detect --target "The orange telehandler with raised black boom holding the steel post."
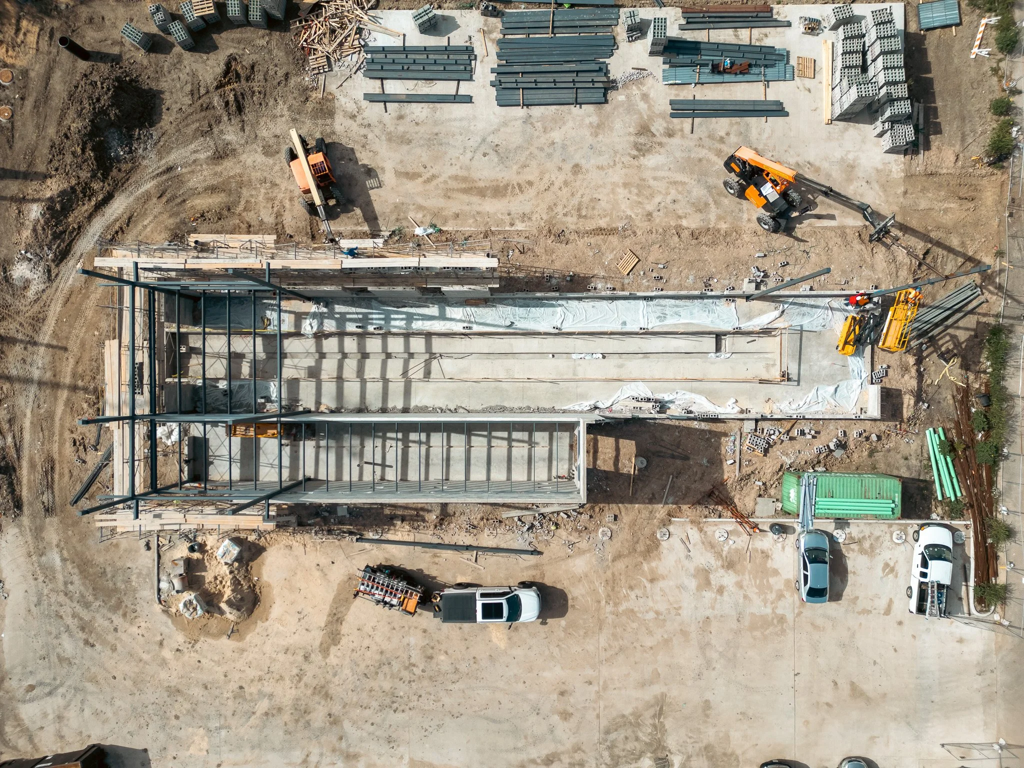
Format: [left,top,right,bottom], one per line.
[722,147,912,293]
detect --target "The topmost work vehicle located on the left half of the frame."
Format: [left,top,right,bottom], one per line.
[280,120,347,275]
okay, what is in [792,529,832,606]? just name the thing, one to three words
car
